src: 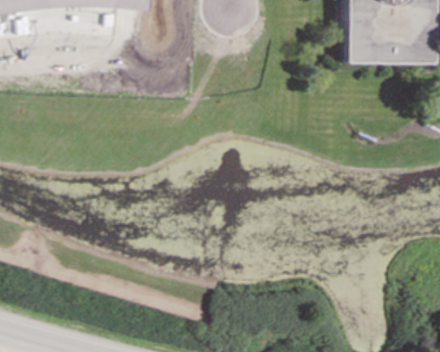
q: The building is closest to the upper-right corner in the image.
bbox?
[338,0,438,67]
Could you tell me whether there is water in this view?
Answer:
Yes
